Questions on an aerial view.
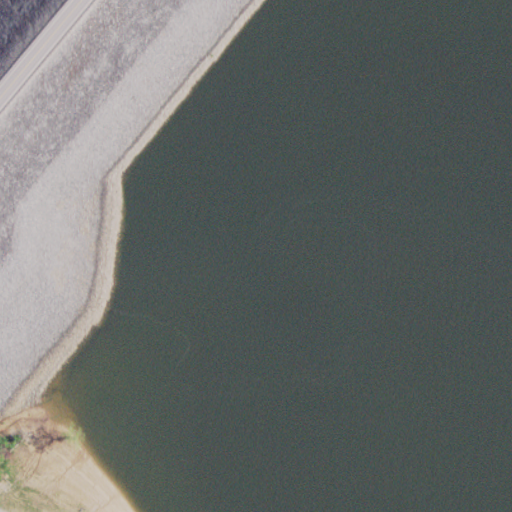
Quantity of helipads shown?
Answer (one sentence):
There are no helipads in the image.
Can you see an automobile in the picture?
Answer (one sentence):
No, the picture doesn't show any automobile.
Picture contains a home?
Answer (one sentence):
No, there is no home in the image.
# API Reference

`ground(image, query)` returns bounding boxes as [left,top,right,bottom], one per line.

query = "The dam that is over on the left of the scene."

[0,0,274,426]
